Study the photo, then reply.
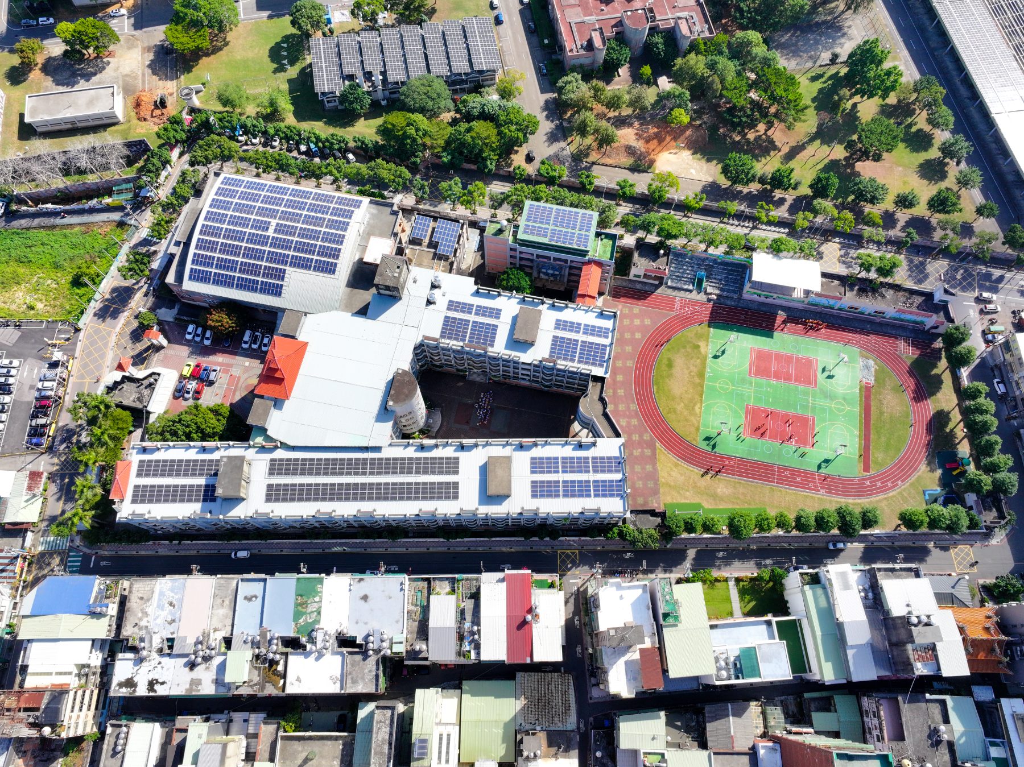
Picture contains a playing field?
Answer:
Yes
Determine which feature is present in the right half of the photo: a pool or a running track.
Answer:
running track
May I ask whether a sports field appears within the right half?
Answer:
Yes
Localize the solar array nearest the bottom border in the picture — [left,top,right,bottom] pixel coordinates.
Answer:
[414,739,428,757]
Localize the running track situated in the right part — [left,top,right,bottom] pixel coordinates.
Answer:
[633,304,933,498]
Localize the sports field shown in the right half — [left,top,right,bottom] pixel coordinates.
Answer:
[654,301,987,536]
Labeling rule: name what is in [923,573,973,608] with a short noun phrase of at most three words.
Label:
house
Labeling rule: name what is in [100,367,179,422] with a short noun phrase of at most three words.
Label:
building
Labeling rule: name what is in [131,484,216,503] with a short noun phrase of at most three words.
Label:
solar array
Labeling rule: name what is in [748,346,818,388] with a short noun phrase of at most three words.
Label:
sports court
